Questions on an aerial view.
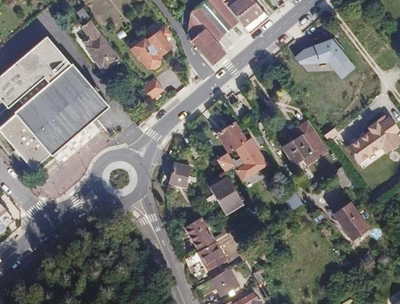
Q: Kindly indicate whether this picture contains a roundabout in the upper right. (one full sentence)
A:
No, in the upper right there is no roundabout.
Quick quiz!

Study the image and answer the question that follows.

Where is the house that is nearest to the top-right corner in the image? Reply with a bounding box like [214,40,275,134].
[295,38,356,79]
